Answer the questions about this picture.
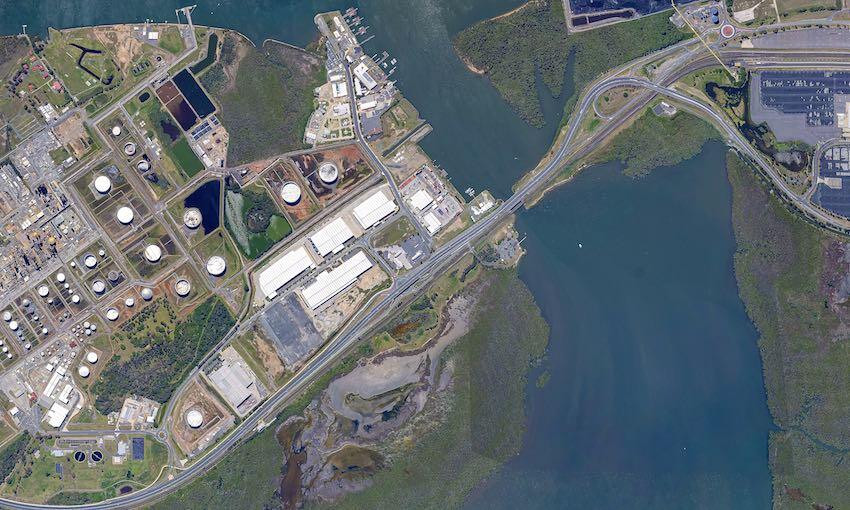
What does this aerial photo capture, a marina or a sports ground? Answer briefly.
marina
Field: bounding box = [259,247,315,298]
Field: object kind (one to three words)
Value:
building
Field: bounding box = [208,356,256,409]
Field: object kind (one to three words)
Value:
building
